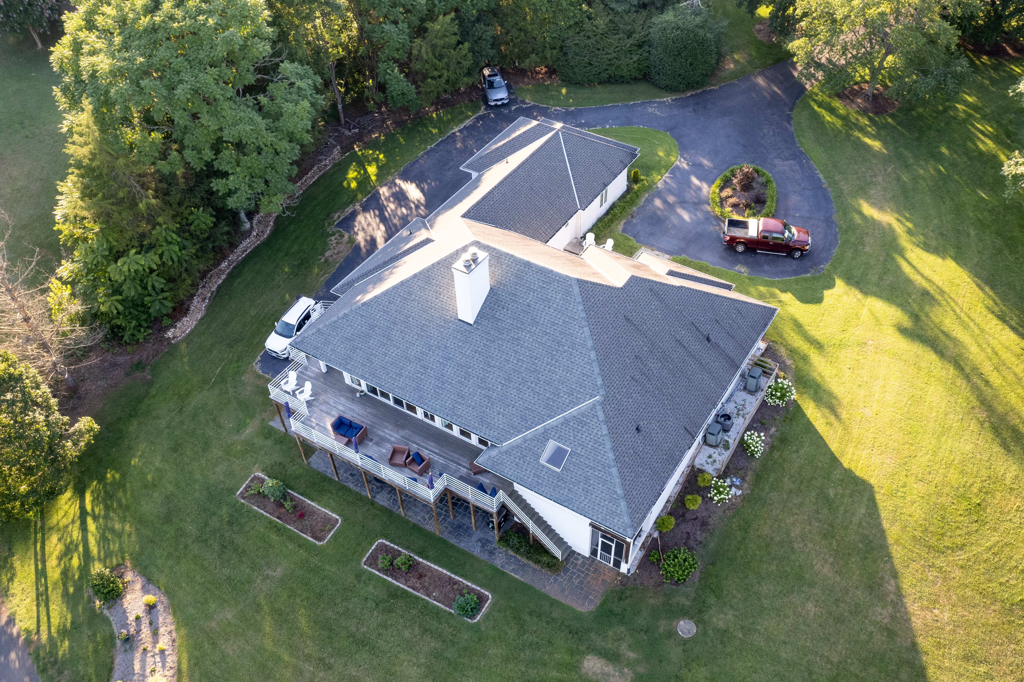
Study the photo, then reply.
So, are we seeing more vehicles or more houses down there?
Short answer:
vehicles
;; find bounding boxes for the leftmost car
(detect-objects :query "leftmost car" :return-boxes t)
[263,296,321,359]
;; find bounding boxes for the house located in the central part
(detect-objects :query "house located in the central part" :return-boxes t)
[285,116,781,579]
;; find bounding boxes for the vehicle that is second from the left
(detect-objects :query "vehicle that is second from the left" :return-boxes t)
[483,61,511,103]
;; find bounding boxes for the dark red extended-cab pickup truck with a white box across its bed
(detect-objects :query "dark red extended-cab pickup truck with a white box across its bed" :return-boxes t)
[720,216,817,260]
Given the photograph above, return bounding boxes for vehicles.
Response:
[483,61,511,103]
[263,296,321,359]
[720,216,817,260]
